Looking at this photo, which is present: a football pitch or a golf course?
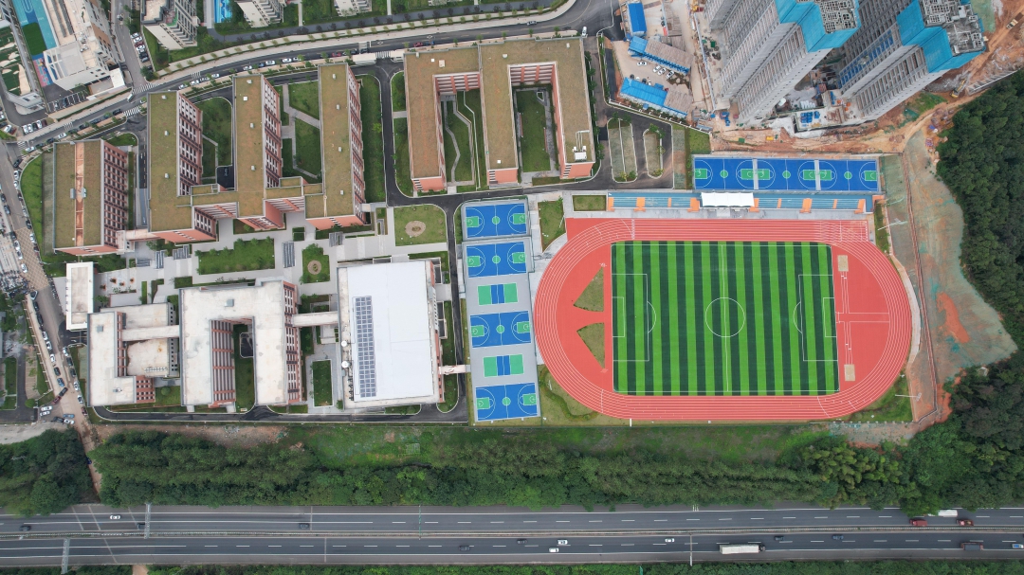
football pitch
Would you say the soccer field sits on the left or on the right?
right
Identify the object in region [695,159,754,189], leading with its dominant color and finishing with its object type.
blue basketball court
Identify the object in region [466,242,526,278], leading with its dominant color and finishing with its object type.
blue basketball court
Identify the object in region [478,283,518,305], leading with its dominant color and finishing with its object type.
green sports court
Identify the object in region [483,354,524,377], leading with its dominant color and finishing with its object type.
green sports court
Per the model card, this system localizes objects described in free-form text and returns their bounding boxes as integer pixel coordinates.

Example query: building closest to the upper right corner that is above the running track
[830,0,990,111]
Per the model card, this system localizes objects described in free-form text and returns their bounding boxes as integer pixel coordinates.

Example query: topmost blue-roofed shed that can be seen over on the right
[627,1,646,37]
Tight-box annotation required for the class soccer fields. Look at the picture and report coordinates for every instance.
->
[610,240,839,396]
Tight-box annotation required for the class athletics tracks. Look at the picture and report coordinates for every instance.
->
[535,219,910,418]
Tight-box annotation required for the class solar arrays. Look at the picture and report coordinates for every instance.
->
[355,296,376,398]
